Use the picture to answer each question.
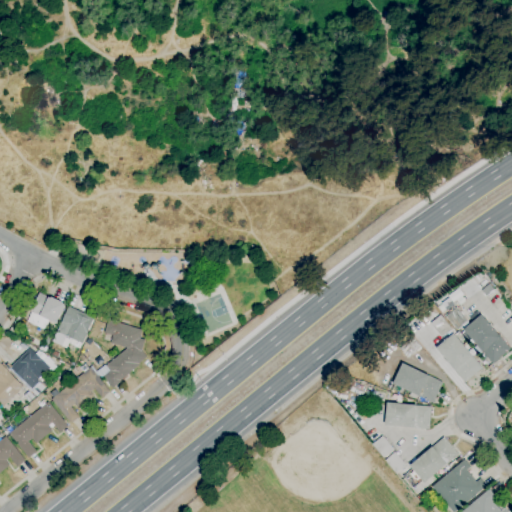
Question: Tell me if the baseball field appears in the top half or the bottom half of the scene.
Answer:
bottom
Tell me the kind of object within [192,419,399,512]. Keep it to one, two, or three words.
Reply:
baseball field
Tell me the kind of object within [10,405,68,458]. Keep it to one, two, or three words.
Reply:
house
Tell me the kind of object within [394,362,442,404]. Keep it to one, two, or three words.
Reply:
house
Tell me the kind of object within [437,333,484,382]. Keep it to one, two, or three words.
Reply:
building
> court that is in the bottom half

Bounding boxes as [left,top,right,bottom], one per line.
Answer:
[192,285,239,337]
